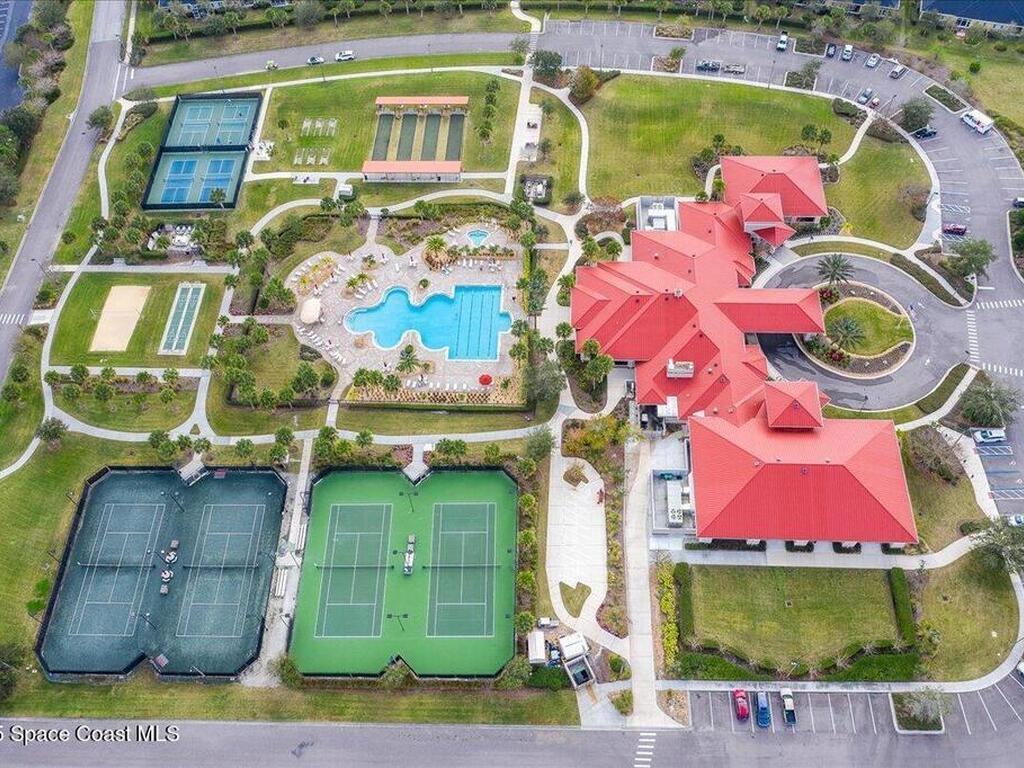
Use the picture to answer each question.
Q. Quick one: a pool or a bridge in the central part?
pool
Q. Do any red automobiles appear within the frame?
Yes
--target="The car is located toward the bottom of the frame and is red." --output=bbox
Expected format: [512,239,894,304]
[733,689,749,721]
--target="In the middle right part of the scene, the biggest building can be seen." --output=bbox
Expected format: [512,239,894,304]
[571,156,919,548]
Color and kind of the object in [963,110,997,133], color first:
white truck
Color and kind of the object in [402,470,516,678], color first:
green tennis court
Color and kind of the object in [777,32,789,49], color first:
white vehicle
